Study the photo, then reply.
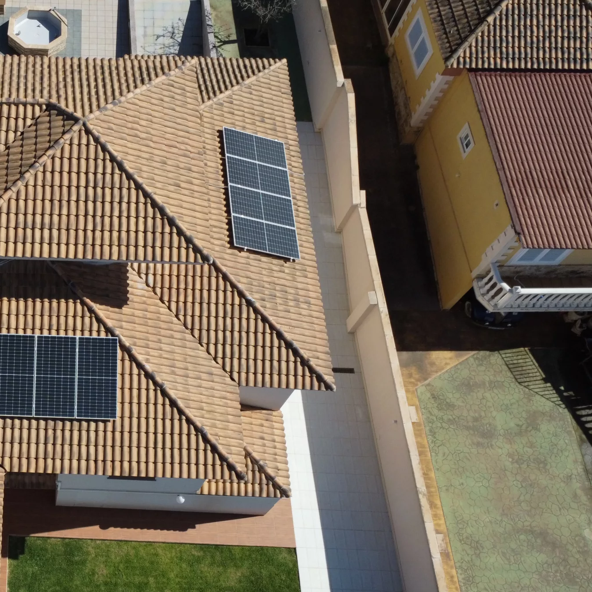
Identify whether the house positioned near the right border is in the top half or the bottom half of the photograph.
top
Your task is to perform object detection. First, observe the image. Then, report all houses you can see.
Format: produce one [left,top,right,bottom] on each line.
[370,0,592,318]
[0,49,340,592]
